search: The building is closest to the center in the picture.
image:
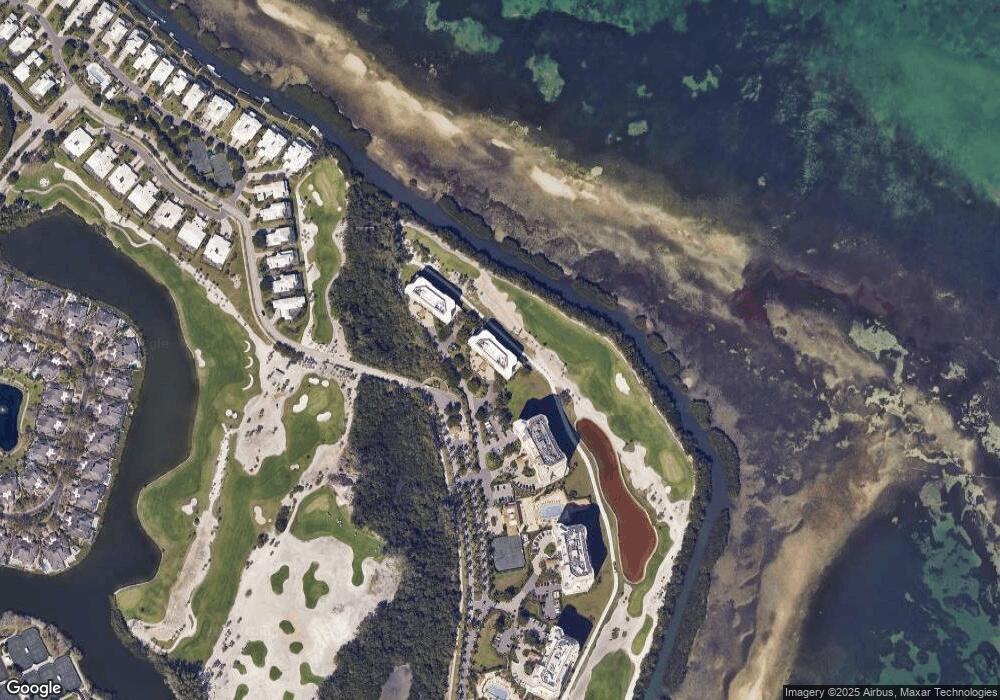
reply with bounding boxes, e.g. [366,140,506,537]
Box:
[467,329,519,381]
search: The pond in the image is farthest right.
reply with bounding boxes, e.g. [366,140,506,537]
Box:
[577,419,657,583]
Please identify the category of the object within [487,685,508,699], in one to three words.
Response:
swimming pool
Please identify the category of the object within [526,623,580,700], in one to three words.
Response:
building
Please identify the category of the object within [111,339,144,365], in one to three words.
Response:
house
